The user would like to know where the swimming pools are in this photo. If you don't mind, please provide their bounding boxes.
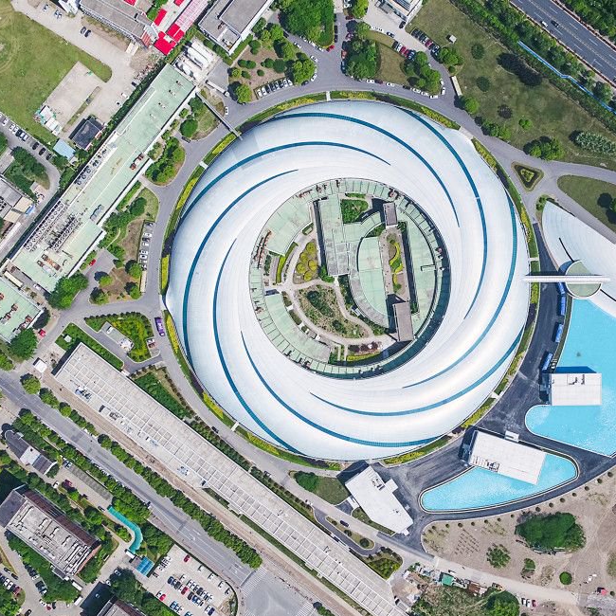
[418,449,580,514]
[522,296,616,460]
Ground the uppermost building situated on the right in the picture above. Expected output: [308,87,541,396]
[374,0,424,28]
